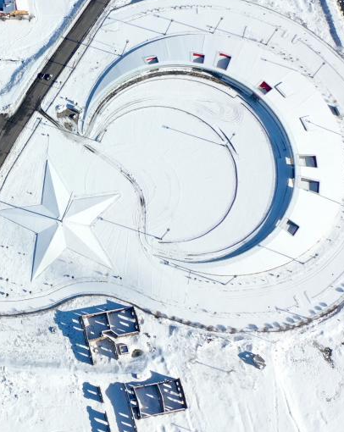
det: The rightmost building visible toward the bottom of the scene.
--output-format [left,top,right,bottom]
[131,378,187,419]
